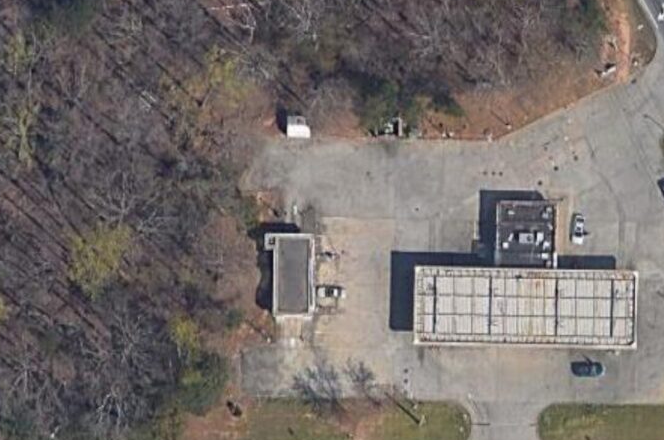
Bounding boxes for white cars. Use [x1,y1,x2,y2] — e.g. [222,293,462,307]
[572,214,589,243]
[317,286,346,299]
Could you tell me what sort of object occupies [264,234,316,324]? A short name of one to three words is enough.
building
